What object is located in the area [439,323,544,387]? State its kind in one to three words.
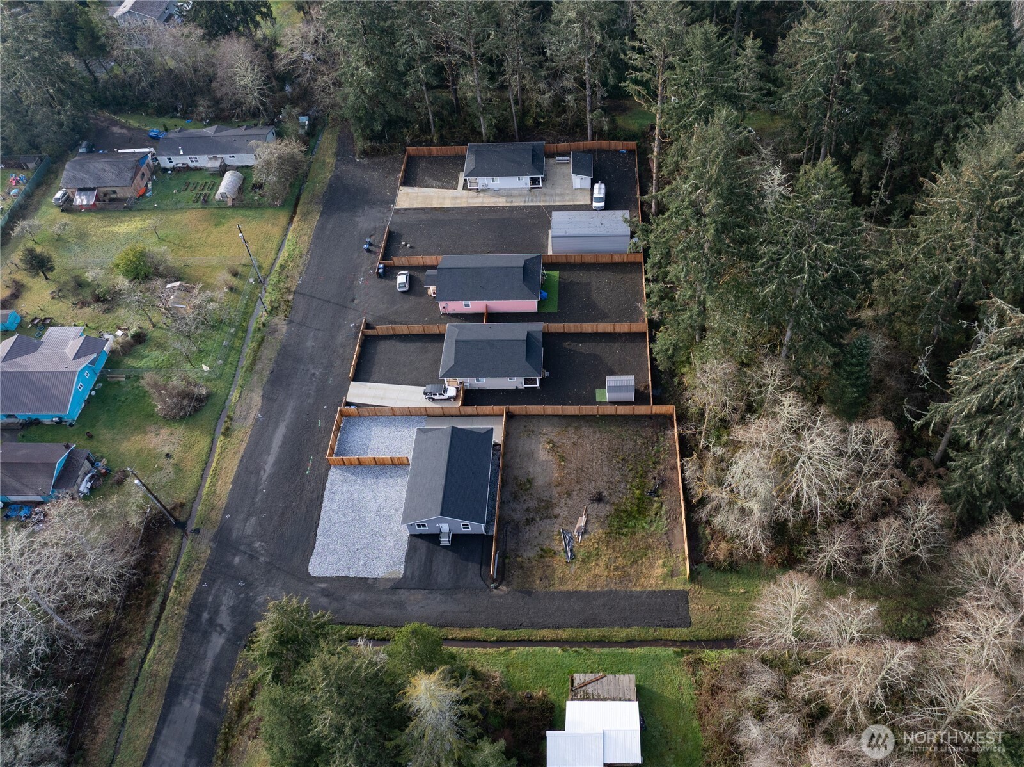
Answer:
house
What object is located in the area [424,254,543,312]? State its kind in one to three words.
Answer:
house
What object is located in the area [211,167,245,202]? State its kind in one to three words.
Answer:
greenhouse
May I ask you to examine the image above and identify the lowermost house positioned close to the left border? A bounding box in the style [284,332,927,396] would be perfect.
[0,443,102,501]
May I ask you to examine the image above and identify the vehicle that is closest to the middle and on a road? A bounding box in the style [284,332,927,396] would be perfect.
[395,271,408,292]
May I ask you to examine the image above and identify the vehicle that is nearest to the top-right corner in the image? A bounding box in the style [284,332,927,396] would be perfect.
[592,176,606,208]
